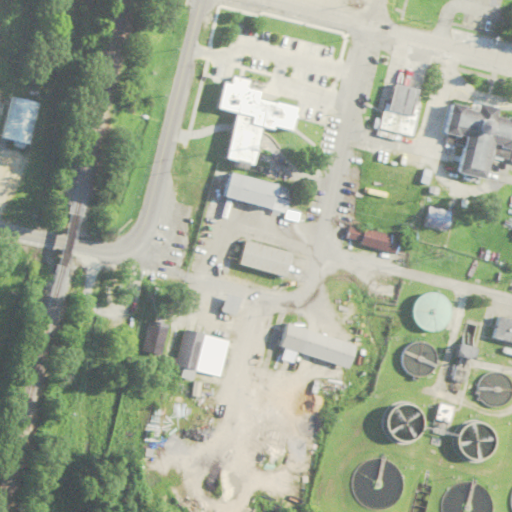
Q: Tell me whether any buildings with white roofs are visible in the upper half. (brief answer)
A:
Yes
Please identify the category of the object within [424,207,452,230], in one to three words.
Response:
house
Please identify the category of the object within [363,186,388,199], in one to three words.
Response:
vehicle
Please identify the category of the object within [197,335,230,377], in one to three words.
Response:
building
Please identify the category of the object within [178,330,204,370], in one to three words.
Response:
shed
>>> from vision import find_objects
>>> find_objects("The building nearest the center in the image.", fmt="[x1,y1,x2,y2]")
[238,242,294,278]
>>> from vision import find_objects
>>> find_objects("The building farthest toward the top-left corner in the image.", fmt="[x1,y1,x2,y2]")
[3,98,40,144]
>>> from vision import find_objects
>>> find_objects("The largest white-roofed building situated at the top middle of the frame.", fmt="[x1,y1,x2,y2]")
[218,76,299,171]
